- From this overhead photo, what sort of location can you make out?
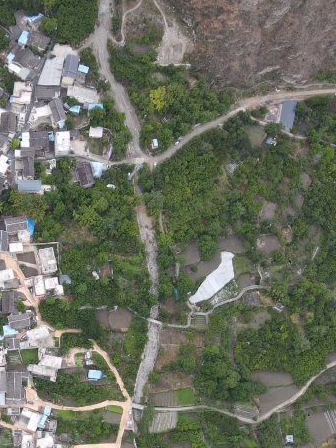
residential area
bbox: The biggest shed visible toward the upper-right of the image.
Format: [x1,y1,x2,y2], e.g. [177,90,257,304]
[275,100,298,133]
